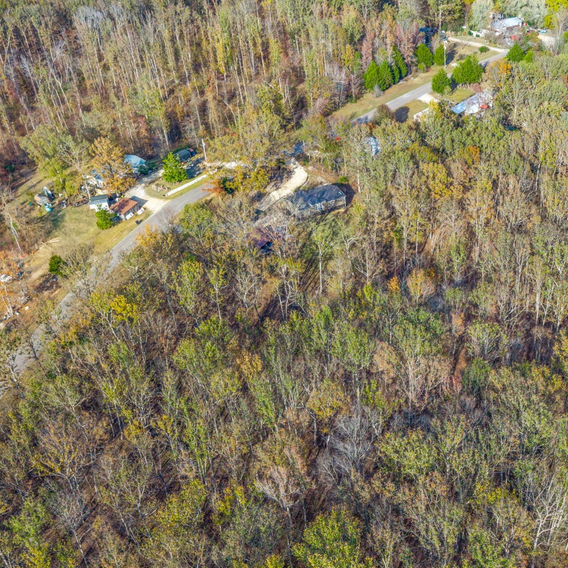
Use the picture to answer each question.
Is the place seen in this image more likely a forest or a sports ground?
forest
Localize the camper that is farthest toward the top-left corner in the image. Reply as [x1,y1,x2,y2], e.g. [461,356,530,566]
[34,192,52,204]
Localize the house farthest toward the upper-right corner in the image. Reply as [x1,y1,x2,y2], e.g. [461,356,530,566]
[475,12,526,39]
